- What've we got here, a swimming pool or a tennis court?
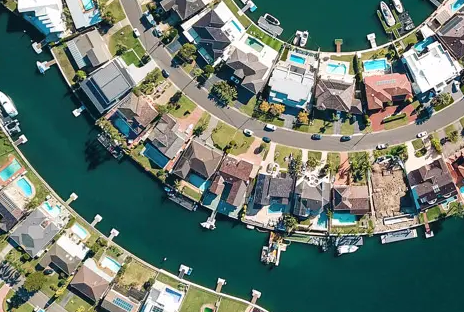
swimming pool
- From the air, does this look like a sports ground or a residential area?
residential area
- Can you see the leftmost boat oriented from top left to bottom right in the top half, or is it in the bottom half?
top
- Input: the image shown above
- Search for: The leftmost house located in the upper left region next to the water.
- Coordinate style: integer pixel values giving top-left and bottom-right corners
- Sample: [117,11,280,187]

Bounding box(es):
[17,0,70,33]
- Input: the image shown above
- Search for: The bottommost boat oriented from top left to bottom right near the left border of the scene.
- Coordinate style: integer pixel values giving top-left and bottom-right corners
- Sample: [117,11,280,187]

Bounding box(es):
[0,93,20,119]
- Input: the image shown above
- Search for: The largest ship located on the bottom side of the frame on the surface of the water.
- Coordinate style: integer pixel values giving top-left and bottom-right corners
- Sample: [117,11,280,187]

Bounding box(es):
[256,228,280,268]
